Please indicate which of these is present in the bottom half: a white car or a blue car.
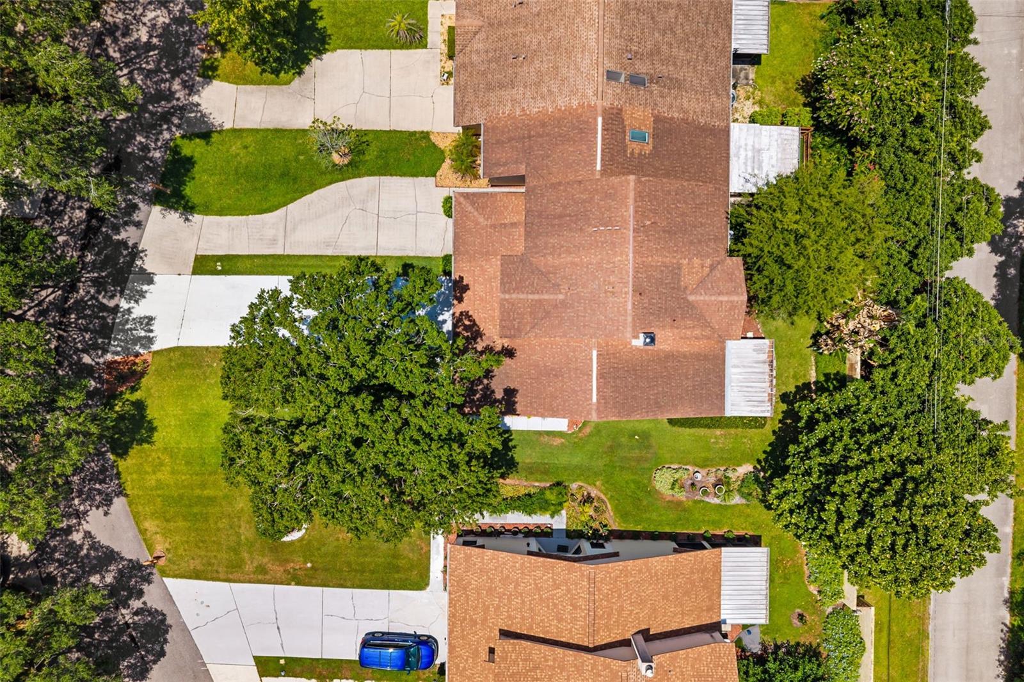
blue car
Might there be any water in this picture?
No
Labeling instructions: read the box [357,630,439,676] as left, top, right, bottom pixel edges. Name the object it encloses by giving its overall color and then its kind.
blue car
